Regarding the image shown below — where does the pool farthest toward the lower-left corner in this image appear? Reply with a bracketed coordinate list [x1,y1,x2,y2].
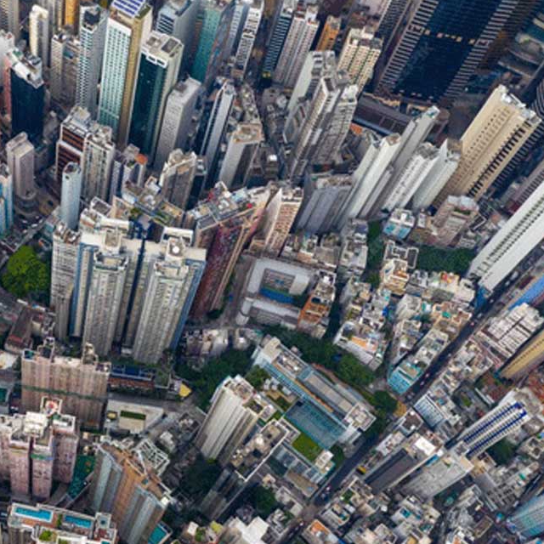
[11,503,46,518]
